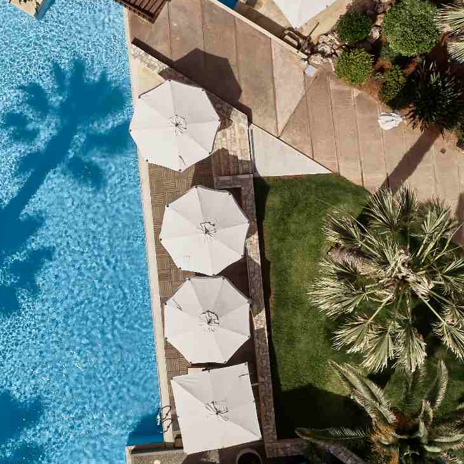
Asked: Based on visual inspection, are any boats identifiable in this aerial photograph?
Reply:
No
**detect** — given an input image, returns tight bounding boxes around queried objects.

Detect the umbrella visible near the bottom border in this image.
[170,362,264,456]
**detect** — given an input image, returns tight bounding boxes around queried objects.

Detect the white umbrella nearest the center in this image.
[159,187,250,276]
